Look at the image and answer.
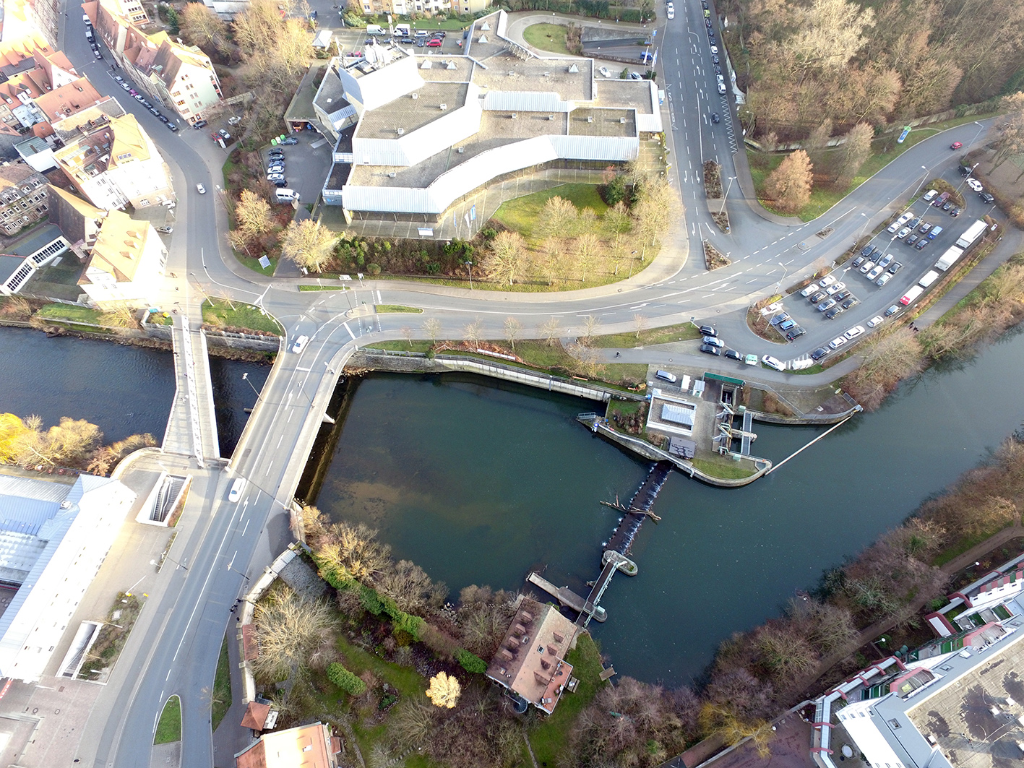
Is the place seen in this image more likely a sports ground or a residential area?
residential area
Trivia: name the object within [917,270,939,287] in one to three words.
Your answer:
vehicle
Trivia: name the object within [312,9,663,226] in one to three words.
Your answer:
building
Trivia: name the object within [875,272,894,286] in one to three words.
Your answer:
car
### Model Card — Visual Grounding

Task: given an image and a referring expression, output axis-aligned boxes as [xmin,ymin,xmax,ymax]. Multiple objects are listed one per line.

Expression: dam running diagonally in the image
[603,459,674,555]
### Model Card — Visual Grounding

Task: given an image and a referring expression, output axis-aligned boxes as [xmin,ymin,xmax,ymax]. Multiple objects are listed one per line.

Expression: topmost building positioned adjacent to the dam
[644,388,696,440]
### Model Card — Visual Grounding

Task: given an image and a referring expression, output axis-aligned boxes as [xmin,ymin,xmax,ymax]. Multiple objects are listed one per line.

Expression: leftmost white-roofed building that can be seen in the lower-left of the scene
[0,465,136,703]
